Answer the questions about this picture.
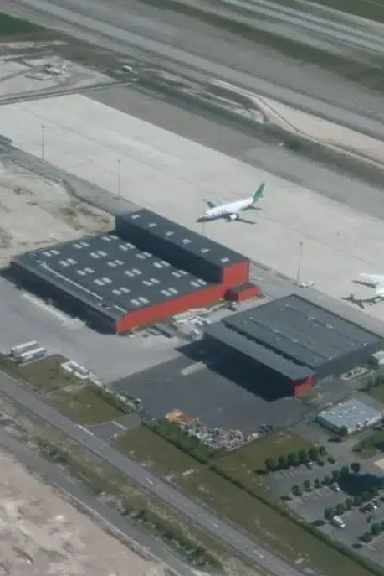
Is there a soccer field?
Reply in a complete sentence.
No, the photo shows no soccer field.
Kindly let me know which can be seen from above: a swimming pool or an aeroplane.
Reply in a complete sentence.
It is an aeroplane that can be seen here.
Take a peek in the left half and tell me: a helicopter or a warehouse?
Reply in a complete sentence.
The feature located in the left half is a warehouse.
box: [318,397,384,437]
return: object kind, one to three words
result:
building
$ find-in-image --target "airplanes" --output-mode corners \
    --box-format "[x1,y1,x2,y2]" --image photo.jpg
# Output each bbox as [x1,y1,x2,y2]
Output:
[203,183,265,220]
[358,273,384,296]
